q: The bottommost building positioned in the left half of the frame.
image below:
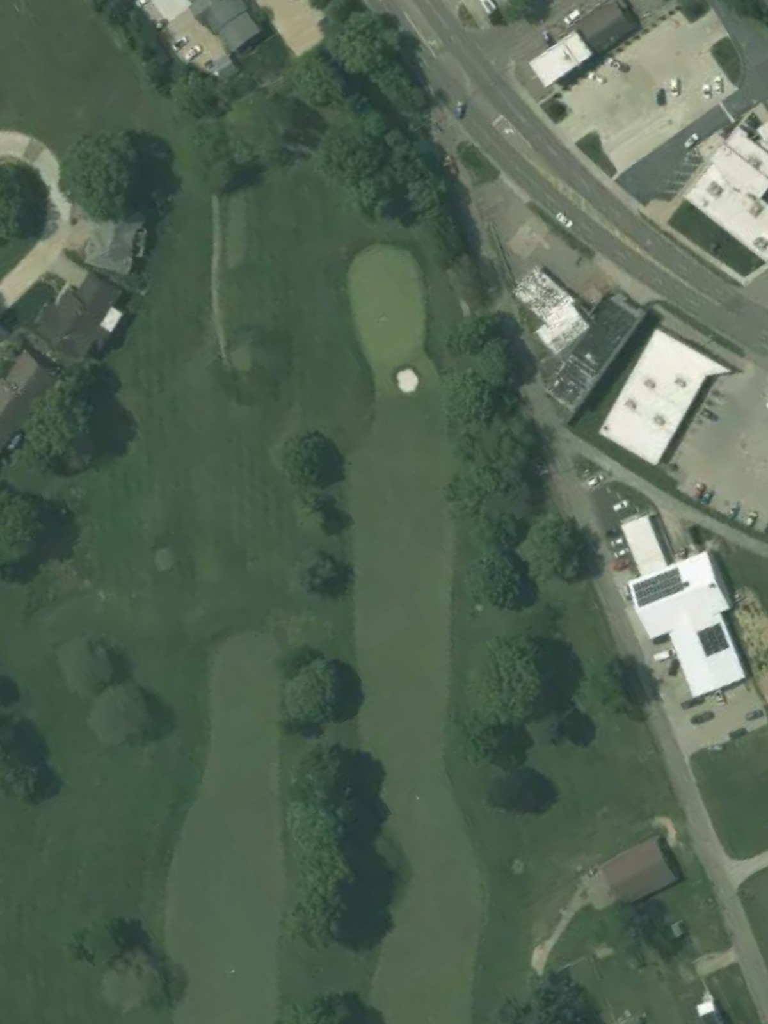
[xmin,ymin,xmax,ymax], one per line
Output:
[0,352,53,448]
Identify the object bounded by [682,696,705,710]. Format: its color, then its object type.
gray vehicle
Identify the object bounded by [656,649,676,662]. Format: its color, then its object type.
white vehicle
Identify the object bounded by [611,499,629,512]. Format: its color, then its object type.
white vehicle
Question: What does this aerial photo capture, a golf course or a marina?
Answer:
golf course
